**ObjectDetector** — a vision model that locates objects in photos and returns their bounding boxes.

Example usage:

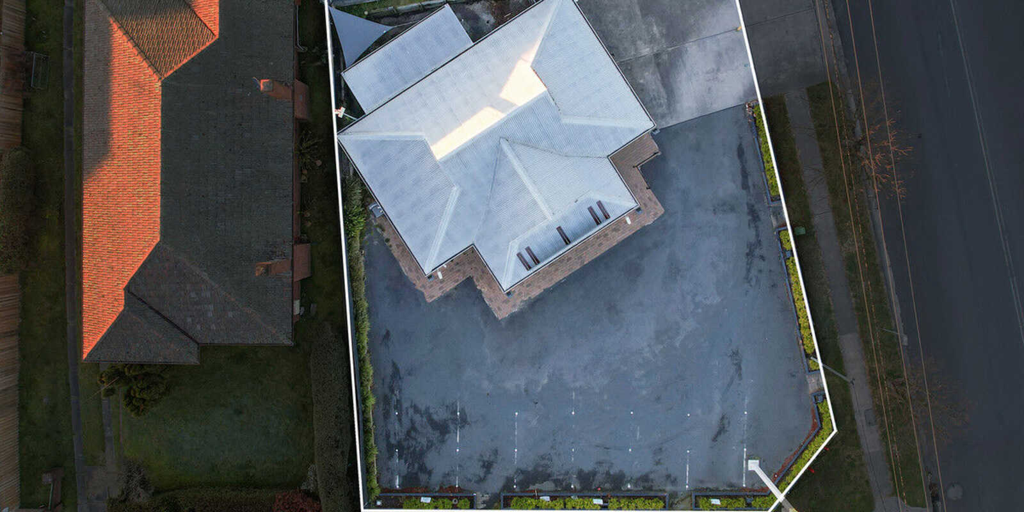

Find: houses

[333,0,659,294]
[81,0,310,364]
